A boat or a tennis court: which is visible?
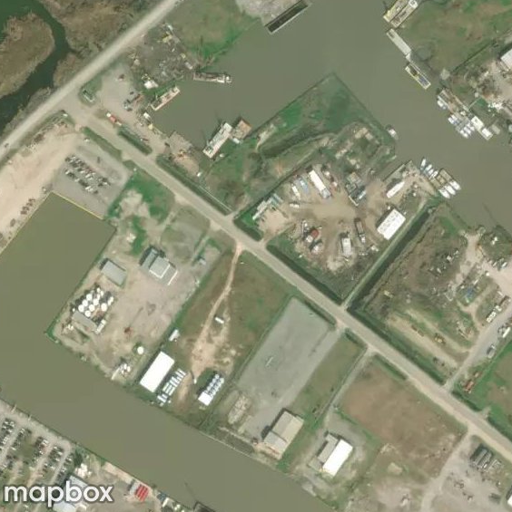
boat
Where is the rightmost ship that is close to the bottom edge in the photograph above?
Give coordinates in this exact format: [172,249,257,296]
[191,496,222,512]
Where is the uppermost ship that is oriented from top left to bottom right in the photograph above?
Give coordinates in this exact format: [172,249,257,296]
[386,30,412,56]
